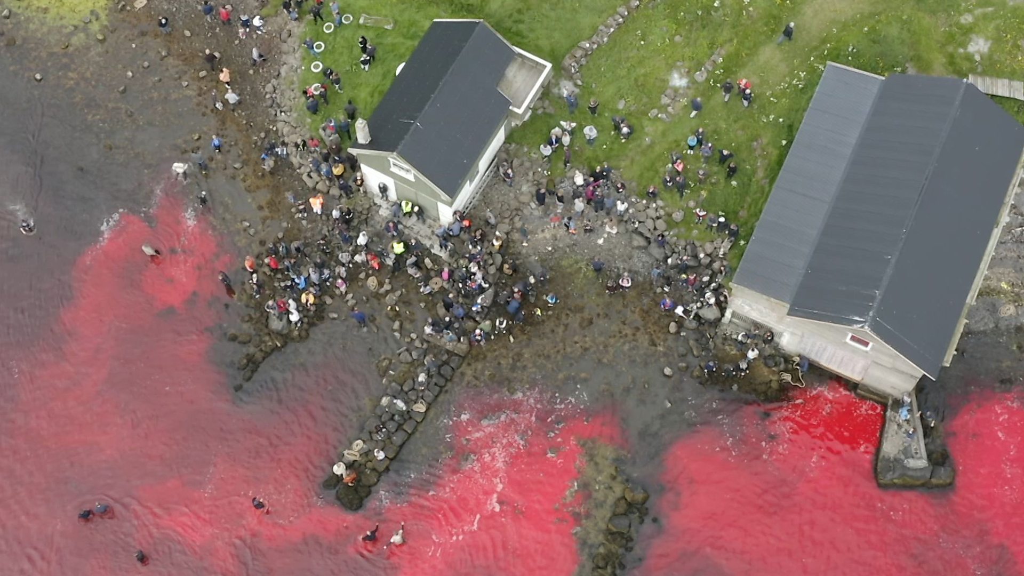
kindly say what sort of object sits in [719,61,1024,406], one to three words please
shed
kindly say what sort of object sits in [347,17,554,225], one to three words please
building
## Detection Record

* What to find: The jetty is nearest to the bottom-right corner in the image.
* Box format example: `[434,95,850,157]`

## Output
[875,396,954,489]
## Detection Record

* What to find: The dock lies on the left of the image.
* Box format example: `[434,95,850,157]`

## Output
[327,322,469,512]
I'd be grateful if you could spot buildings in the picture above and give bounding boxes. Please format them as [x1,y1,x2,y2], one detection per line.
[347,17,554,225]
[719,61,1024,406]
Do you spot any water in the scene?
Yes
